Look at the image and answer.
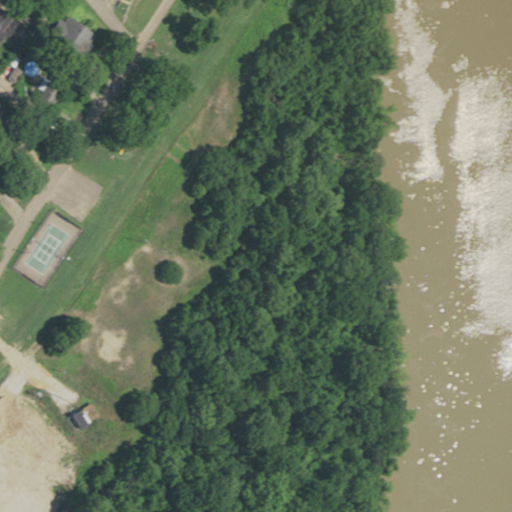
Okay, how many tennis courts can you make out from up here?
1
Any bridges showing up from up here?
No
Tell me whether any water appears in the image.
Yes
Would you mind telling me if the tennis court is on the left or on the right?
left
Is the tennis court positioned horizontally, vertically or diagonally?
diagonally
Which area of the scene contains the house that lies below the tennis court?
bottom left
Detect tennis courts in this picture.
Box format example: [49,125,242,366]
[14,210,82,288]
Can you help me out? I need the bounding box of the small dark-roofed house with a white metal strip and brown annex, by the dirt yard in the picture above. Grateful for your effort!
[74,404,100,429]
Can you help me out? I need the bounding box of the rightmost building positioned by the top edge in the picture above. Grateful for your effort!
[60,19,94,53]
